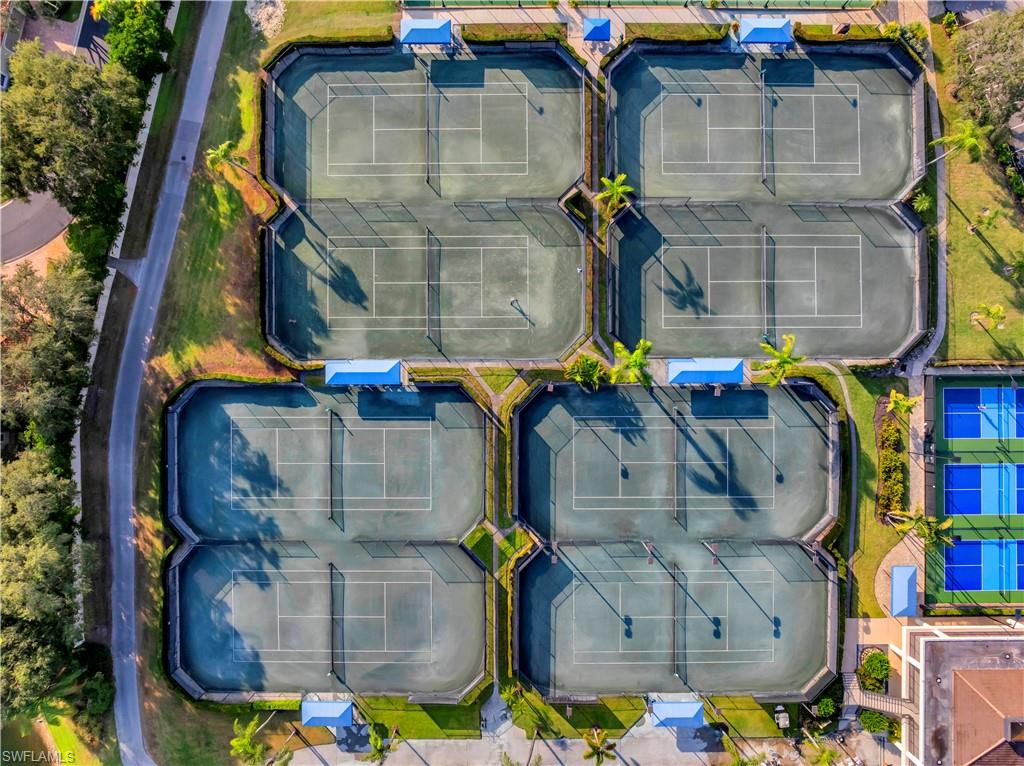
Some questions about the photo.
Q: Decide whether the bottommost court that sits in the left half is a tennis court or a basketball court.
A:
tennis court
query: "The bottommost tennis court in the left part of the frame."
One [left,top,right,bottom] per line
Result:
[177,542,483,693]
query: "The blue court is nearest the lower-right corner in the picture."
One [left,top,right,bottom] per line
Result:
[944,536,1024,596]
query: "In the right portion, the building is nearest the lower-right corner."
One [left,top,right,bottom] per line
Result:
[887,616,1024,766]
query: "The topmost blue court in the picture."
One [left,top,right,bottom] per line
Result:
[944,384,1024,443]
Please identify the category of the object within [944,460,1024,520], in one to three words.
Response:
sports court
